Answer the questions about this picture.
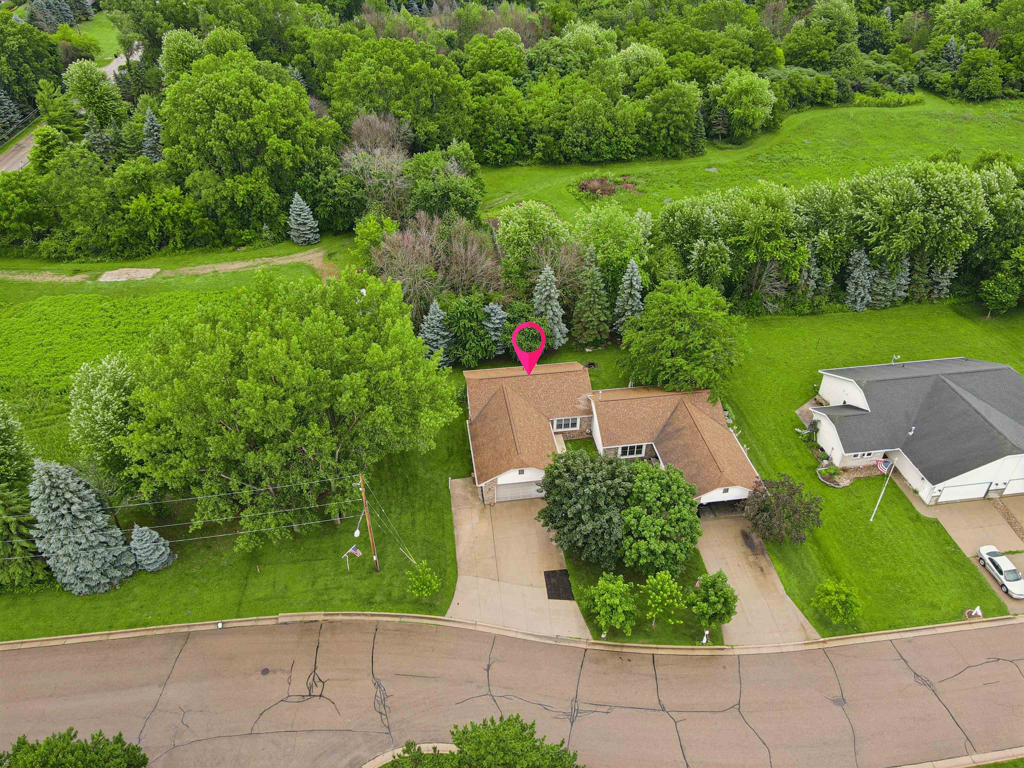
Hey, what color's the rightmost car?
white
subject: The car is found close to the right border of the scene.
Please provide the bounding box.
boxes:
[978,545,1024,596]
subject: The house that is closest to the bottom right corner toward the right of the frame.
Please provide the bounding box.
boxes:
[809,357,1024,506]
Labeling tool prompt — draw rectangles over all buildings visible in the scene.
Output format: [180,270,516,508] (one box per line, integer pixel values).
[463,362,769,527]
[809,357,1024,506]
